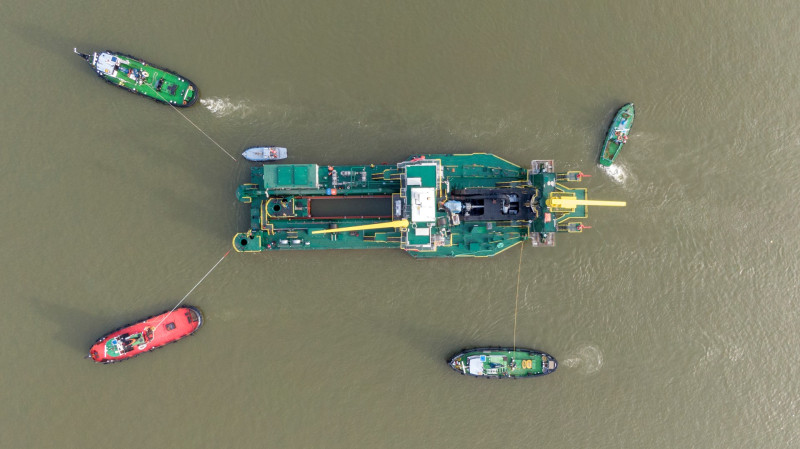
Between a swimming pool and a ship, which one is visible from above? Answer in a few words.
ship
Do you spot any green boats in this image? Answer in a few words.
Yes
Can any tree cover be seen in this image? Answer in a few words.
No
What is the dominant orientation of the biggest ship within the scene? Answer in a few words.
horizontally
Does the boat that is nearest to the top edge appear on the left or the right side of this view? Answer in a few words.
left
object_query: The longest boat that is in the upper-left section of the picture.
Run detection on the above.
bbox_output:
[75,49,200,107]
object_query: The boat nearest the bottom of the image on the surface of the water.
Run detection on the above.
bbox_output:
[447,346,559,380]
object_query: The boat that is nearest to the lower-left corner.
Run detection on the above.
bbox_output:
[84,308,205,363]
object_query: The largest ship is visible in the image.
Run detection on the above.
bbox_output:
[233,152,627,258]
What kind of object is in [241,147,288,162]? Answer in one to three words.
boat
